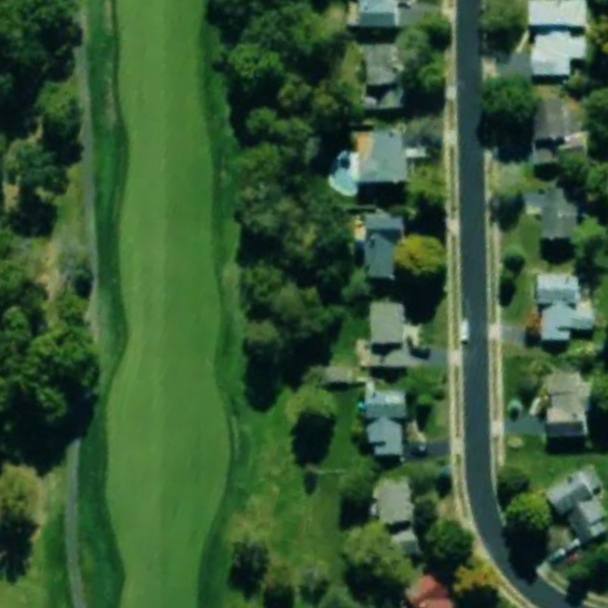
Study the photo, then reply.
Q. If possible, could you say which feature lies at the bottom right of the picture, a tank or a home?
home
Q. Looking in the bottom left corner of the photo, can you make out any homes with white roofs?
No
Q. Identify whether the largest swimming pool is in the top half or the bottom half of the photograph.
top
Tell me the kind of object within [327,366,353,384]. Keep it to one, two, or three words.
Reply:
shed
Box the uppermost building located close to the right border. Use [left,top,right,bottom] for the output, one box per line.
[529,0,588,77]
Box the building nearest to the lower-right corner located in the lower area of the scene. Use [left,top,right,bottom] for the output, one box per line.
[545,465,608,549]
